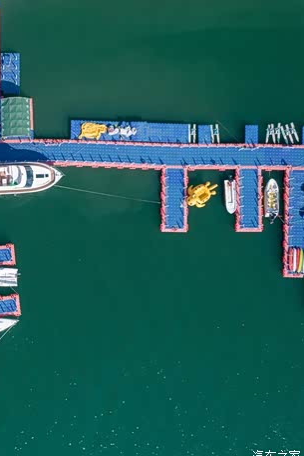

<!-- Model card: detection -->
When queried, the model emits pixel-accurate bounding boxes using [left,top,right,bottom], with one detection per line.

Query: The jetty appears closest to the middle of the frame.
[158,170,188,232]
